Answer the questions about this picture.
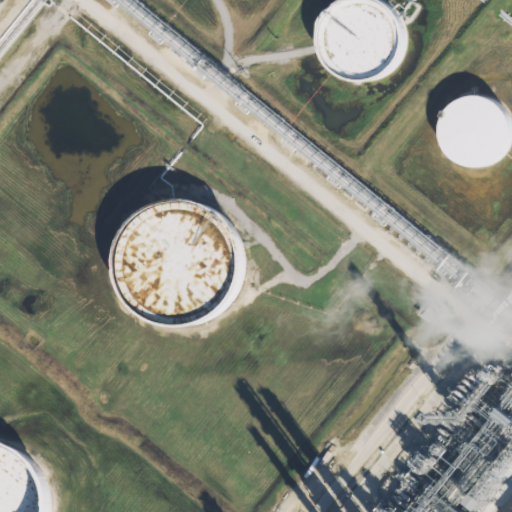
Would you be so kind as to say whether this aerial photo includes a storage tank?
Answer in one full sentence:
Yes, the picture does show a storage tank.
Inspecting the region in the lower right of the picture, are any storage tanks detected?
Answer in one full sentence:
No, I see no storage tank in the lower right of the picture.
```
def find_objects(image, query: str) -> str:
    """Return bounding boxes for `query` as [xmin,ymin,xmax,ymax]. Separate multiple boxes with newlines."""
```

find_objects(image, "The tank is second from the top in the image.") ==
[436,91,512,172]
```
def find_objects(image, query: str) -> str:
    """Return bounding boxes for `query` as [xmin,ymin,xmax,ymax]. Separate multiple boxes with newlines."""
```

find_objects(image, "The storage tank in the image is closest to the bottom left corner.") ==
[0,441,49,512]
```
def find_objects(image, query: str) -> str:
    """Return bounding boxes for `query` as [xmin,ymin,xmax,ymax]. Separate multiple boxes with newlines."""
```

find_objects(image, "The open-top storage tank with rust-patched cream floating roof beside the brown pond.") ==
[110,198,246,330]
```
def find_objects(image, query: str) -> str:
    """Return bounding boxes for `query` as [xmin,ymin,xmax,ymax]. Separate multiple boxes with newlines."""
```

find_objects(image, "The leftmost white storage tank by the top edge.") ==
[314,0,408,83]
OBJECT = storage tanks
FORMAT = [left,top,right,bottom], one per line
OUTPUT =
[110,198,246,330]
[436,91,512,172]
[0,441,49,512]
[314,0,408,83]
